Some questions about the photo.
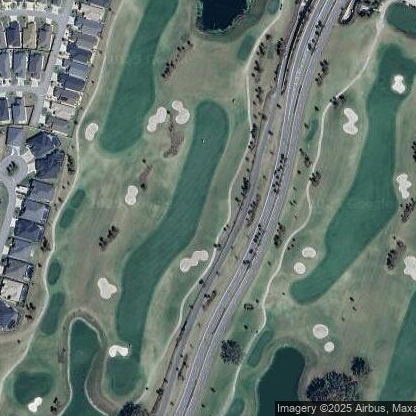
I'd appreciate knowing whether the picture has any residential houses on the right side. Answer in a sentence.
No, on the right side there is no residential house.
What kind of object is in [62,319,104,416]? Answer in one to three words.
pond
